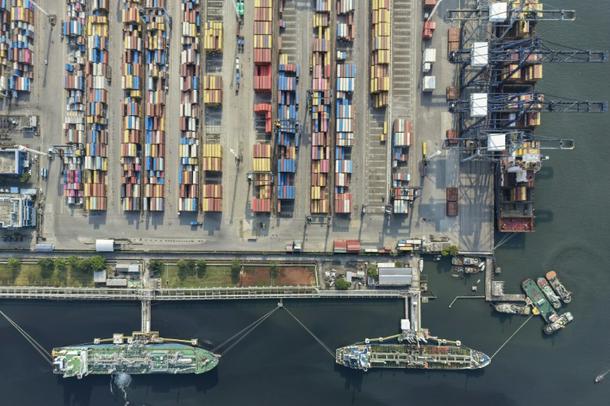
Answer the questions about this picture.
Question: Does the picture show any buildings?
Yes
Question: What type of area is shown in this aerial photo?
port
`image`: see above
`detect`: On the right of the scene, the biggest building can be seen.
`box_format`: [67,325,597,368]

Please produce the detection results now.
[378,268,413,285]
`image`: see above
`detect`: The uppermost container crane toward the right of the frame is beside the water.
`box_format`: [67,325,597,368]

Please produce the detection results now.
[446,0,577,47]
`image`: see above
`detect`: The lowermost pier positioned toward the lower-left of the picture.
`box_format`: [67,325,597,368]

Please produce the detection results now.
[94,298,198,357]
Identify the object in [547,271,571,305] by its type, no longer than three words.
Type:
boat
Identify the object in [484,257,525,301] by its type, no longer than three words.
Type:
pier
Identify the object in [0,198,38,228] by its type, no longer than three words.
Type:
building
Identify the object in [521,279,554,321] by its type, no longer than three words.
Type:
ship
